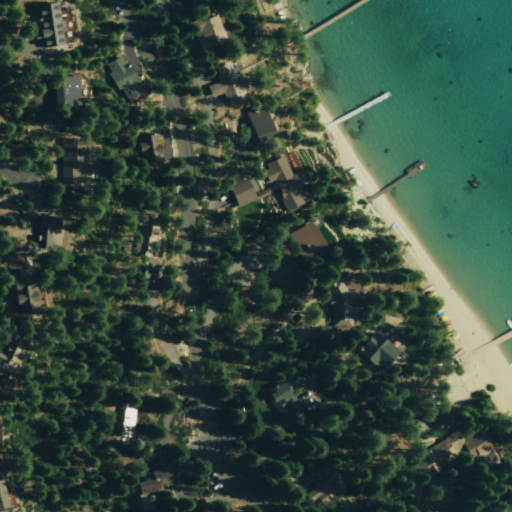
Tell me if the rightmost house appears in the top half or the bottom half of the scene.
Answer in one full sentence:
It is in the bottom half that the rightmost house appears.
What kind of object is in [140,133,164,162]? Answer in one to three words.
house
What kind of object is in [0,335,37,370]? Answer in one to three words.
house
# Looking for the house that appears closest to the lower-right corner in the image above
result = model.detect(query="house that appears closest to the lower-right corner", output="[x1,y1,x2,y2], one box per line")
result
[464,438,502,464]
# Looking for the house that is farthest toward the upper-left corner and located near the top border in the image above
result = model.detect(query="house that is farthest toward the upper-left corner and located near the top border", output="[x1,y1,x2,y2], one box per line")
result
[38,1,78,50]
